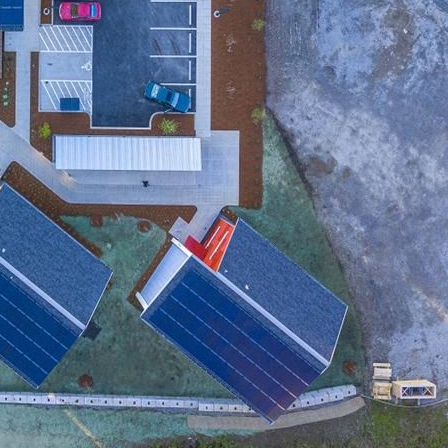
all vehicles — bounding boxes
[60,0,102,21]
[146,80,195,114]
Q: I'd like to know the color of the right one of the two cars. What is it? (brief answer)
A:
blue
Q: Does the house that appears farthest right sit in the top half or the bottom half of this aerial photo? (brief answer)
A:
bottom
